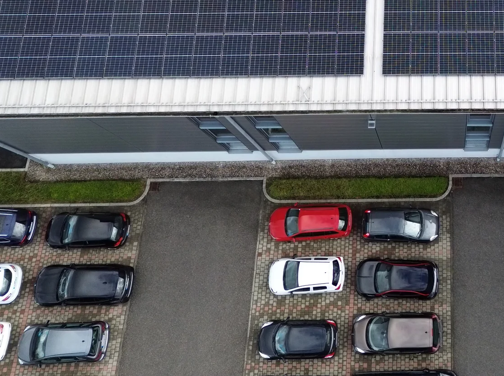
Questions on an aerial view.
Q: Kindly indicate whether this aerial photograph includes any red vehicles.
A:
Yes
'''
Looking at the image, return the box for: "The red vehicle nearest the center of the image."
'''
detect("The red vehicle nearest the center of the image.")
[268,200,353,245]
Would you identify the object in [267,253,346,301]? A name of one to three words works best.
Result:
car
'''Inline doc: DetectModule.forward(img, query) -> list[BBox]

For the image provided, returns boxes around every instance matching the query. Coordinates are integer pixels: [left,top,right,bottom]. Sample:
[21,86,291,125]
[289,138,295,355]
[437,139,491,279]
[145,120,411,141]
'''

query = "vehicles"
[267,253,346,301]
[257,314,340,366]
[15,318,115,371]
[357,368,452,376]
[30,258,138,311]
[268,200,353,245]
[361,203,439,247]
[351,309,442,362]
[0,264,29,308]
[0,209,42,252]
[354,255,438,304]
[42,207,134,254]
